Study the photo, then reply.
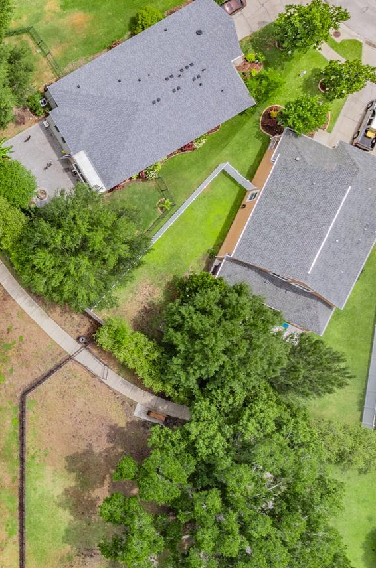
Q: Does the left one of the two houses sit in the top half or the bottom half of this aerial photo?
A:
top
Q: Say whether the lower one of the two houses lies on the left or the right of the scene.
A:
right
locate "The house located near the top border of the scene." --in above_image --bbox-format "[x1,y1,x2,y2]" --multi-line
[46,0,256,195]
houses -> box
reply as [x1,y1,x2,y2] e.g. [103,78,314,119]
[46,0,256,195]
[199,126,376,335]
